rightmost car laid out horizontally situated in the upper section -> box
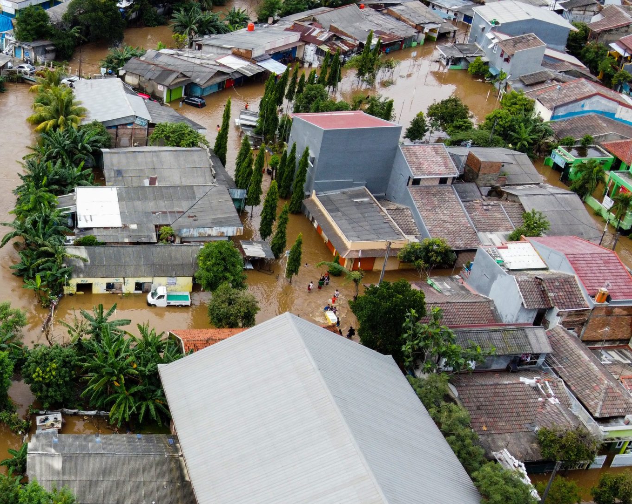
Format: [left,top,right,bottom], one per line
[179,95,211,108]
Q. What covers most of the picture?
buildings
